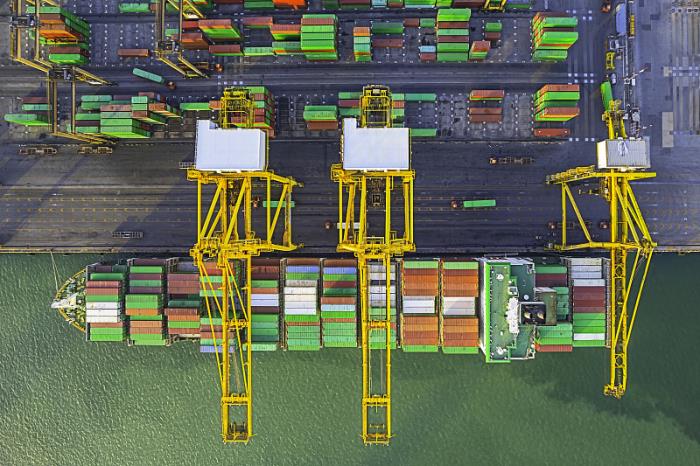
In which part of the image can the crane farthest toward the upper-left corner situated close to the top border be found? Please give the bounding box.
[12,0,88,82]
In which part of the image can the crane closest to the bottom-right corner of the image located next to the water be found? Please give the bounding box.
[538,105,657,401]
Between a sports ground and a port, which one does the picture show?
port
